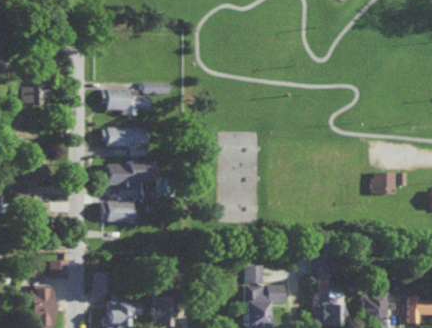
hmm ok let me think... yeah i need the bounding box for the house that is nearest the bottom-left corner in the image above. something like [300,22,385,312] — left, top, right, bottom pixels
[32,286,58,328]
